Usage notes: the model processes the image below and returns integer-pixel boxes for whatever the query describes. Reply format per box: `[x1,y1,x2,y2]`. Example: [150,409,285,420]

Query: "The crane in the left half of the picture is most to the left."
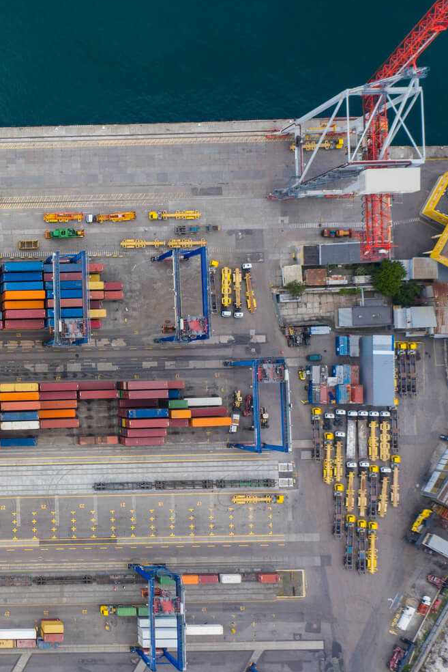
[39,251,99,345]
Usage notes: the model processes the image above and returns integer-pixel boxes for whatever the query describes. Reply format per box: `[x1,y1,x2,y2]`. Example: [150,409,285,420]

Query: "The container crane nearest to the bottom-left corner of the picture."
[126,565,191,672]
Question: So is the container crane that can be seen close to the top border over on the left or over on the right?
right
